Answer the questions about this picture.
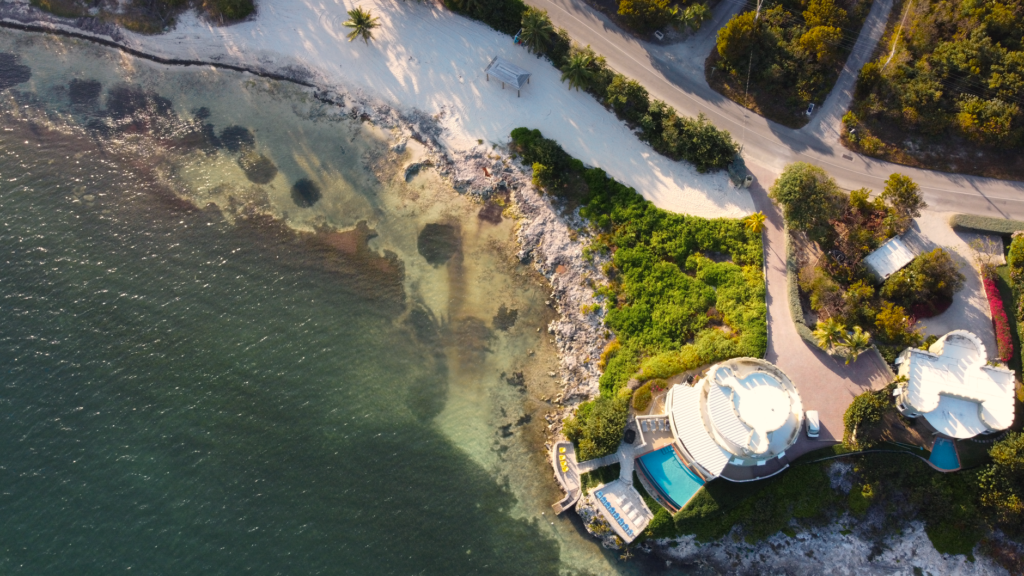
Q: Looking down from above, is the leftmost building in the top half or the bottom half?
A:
top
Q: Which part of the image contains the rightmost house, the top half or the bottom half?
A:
bottom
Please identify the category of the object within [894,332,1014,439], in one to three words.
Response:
house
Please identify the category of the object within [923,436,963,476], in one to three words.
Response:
swimming pool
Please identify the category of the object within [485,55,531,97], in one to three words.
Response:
building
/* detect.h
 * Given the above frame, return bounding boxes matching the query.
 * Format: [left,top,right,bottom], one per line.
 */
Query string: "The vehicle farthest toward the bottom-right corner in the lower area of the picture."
[804,406,823,436]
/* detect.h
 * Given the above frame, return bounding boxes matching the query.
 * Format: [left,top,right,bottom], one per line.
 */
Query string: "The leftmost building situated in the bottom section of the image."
[665,362,806,481]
